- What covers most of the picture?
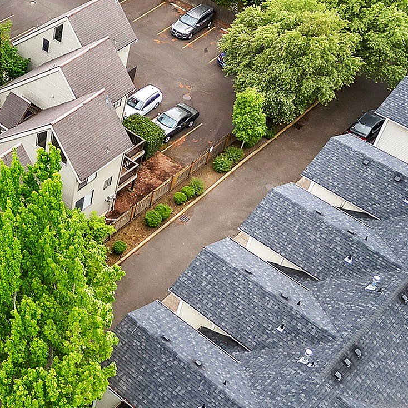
buildings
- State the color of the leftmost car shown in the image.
white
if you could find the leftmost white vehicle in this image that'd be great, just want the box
[129,80,171,120]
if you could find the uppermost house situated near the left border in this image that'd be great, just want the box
[10,0,140,79]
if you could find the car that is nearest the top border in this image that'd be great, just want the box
[169,2,215,38]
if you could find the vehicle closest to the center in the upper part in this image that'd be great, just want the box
[152,101,205,143]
